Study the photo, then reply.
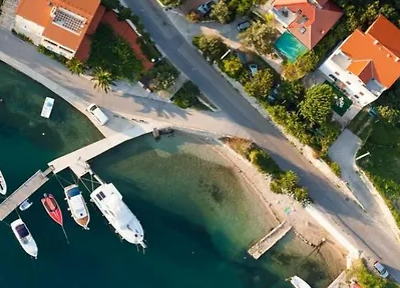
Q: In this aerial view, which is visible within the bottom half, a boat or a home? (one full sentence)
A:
It is a boat that can be seen within the bottom half.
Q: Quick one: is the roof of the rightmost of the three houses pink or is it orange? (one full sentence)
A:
In this view, the roof of the rightmost of the three houses is orange.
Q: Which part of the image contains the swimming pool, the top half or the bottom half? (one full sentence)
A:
The swimming pool is in the top half of the image.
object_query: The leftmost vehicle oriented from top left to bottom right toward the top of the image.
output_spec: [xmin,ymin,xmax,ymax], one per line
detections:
[88,103,109,125]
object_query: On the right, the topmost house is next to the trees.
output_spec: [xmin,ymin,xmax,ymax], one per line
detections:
[269,0,349,51]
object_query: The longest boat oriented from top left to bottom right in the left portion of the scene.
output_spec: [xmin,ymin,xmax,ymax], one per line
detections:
[90,181,149,249]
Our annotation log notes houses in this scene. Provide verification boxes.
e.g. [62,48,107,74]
[269,0,349,51]
[318,6,400,96]
[14,0,105,62]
